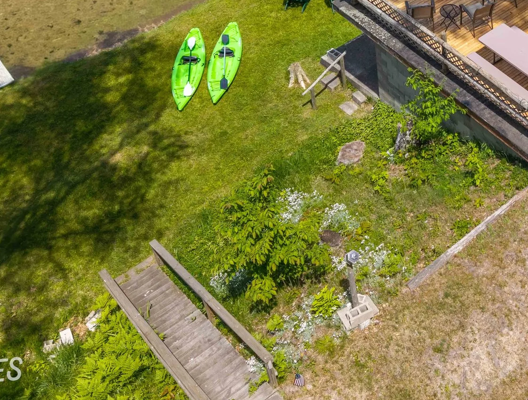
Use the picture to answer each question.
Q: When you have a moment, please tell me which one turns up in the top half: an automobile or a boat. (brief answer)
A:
boat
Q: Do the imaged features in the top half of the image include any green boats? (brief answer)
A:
Yes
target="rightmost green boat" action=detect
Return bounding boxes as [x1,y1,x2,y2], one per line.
[208,22,243,108]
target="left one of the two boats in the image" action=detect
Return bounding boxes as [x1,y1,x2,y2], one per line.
[171,28,206,115]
